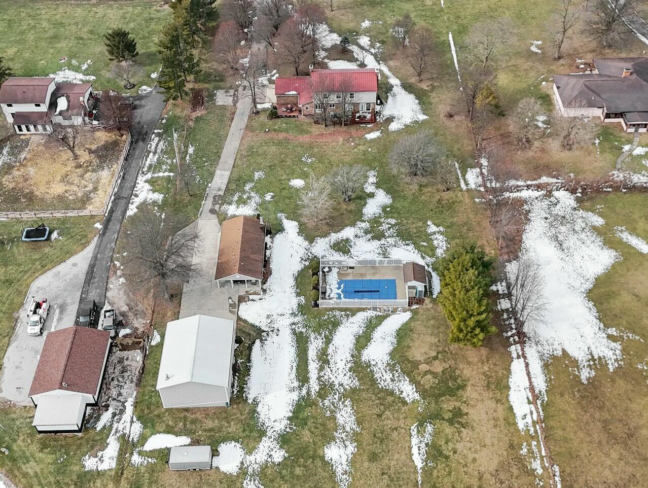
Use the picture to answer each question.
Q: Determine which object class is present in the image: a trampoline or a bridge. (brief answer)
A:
trampoline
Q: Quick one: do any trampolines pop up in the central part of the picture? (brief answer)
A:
No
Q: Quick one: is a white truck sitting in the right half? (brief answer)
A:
No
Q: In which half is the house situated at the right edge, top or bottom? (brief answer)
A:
top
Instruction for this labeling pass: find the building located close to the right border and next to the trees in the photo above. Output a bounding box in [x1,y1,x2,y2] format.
[555,57,648,135]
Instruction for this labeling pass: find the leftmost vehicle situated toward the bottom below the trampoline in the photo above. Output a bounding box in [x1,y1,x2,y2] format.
[24,293,51,334]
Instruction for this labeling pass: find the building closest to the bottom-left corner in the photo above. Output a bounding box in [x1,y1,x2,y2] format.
[27,325,115,437]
